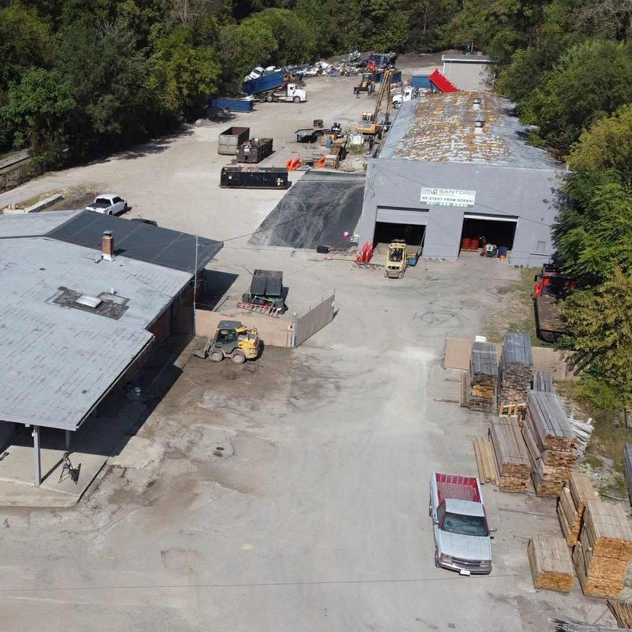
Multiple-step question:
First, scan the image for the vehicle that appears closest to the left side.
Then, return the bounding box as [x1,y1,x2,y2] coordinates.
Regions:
[80,188,133,214]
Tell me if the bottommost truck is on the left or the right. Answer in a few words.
right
